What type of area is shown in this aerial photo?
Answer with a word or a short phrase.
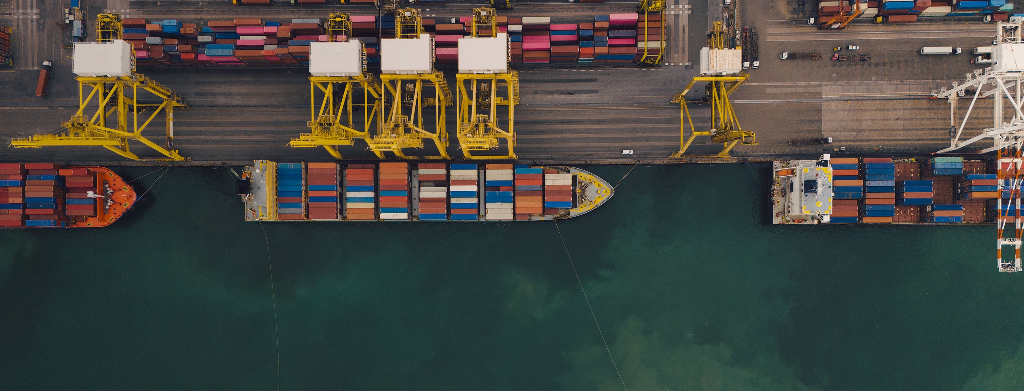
port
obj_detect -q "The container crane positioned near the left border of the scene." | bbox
[3,13,189,161]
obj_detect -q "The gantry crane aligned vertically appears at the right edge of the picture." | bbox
[927,15,1024,272]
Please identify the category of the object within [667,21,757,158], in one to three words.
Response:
container crane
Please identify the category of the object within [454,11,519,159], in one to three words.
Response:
container crane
